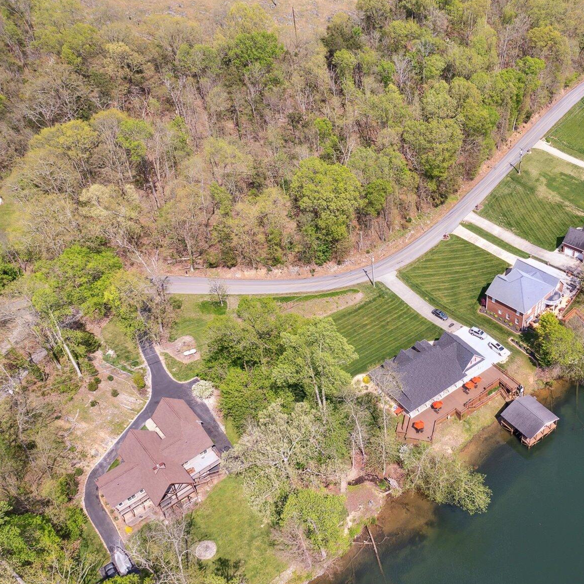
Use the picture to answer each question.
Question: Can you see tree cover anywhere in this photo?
Yes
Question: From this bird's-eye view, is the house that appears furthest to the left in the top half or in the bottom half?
bottom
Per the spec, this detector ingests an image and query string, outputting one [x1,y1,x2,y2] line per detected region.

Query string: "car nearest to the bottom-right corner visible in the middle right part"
[487,341,510,360]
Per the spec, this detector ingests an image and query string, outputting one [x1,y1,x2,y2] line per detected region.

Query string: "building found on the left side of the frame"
[94,396,234,538]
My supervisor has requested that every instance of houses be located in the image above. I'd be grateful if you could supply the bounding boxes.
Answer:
[94,396,234,538]
[560,217,584,260]
[483,259,580,340]
[361,322,527,455]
